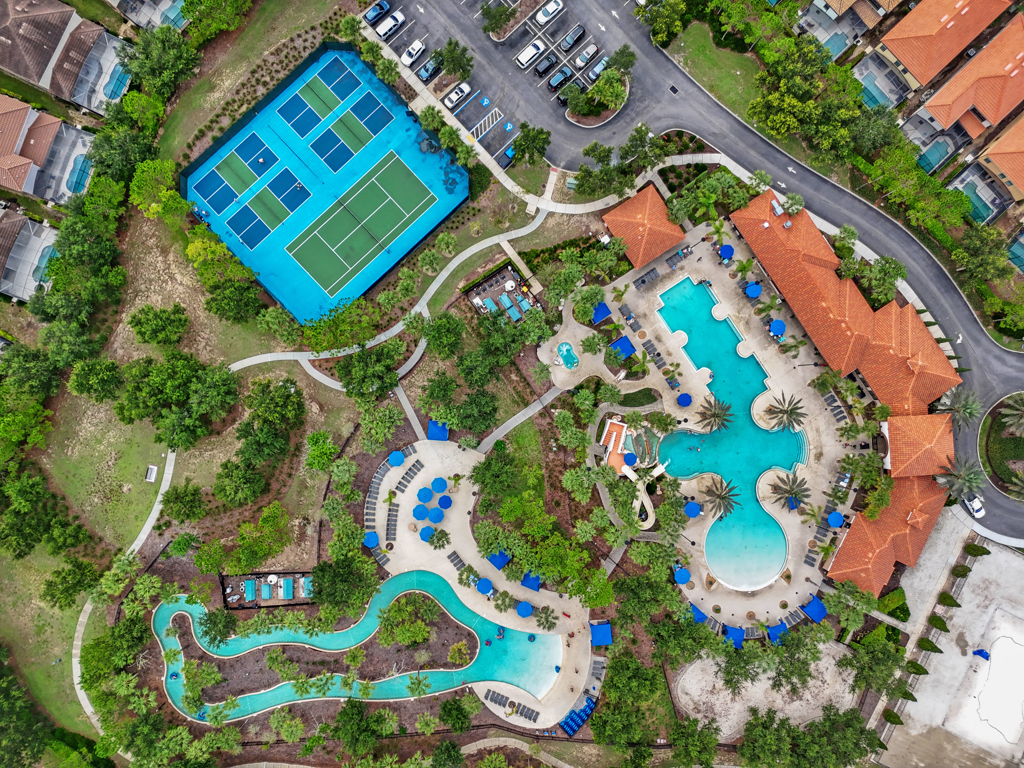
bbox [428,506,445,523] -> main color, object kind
blue umbrella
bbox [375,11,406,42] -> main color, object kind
white car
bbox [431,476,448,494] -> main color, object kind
blue umbrella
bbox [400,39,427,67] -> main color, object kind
white car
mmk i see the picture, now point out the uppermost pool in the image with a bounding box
[159,3,184,29]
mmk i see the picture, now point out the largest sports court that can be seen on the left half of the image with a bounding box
[187,51,467,323]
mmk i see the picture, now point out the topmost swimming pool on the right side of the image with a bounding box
[820,30,851,66]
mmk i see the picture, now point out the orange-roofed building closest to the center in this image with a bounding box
[602,183,687,270]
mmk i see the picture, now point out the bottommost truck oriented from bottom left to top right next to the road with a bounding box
[489,145,519,175]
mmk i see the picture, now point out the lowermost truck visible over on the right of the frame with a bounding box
[958,488,987,522]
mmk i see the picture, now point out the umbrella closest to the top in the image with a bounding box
[718,244,735,260]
